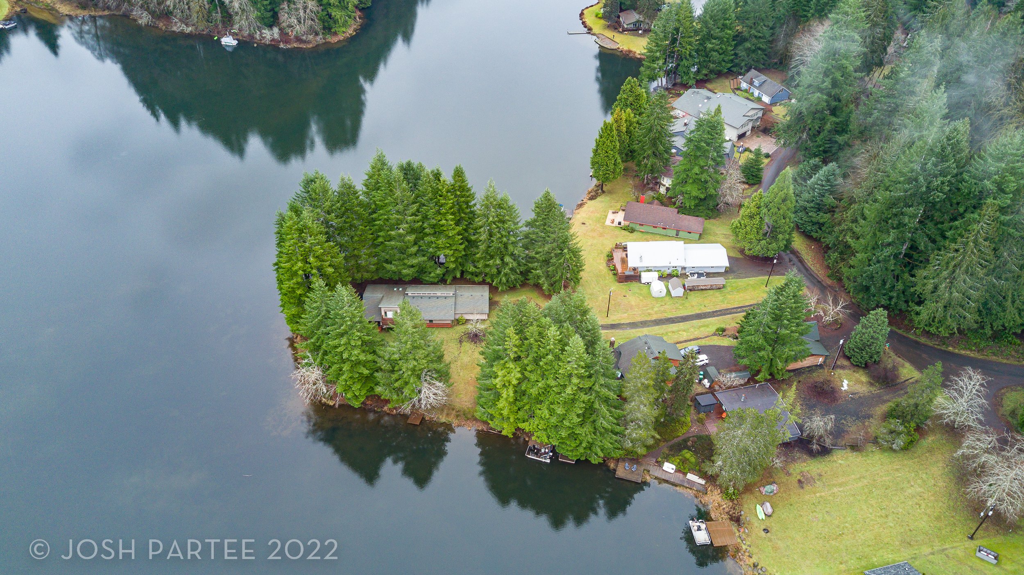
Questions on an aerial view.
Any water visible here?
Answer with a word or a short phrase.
Yes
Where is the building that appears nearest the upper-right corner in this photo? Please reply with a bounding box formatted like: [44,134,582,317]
[731,69,791,105]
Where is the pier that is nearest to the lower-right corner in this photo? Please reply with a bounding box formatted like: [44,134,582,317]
[705,521,738,549]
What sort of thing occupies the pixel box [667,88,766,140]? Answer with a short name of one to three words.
house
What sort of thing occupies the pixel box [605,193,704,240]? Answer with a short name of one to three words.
building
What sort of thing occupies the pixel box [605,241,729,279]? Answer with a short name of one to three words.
house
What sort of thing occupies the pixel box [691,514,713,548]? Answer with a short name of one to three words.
boat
